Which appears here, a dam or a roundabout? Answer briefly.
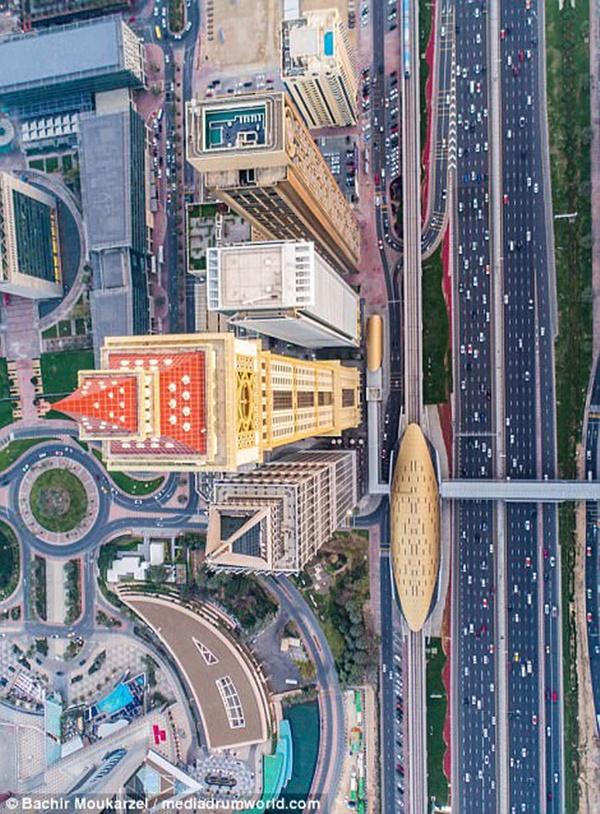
roundabout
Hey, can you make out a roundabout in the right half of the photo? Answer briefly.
No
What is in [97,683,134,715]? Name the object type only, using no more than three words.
swimming pool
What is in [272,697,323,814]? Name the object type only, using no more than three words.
pond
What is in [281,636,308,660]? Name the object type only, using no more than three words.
shed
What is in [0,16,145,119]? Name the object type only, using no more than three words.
building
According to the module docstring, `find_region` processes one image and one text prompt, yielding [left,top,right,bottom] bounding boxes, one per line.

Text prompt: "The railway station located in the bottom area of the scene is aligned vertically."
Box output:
[388,425,443,632]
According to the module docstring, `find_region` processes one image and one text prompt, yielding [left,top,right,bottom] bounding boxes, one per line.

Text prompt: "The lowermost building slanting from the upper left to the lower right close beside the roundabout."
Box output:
[115,588,274,751]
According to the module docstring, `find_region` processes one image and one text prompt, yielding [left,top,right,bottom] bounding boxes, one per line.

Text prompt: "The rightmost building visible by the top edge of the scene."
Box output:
[282,9,361,134]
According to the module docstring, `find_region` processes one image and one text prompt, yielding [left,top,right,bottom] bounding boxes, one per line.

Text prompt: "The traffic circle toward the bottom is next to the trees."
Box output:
[7,444,111,556]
